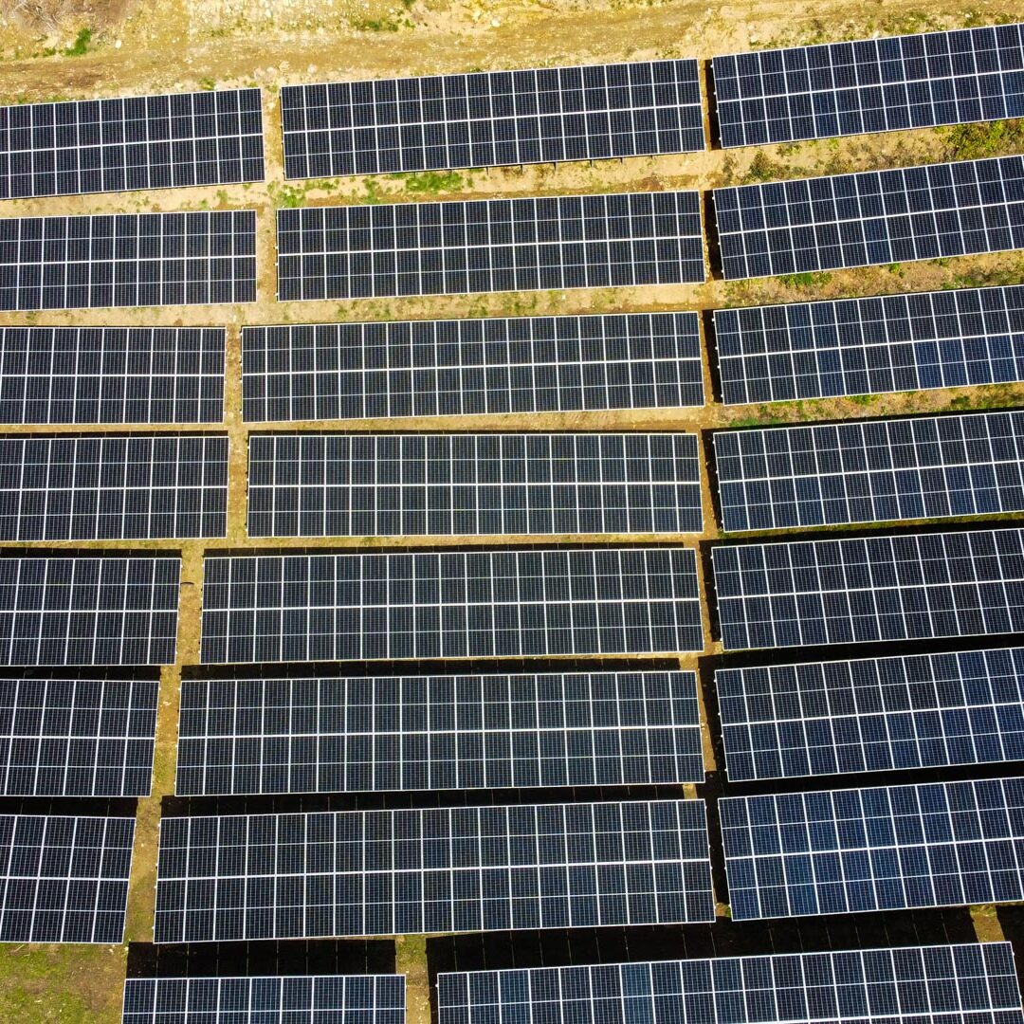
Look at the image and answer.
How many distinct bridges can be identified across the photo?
none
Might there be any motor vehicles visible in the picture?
No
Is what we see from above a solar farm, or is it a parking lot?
solar farm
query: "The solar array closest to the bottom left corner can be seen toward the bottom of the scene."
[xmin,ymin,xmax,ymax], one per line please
[0,815,137,942]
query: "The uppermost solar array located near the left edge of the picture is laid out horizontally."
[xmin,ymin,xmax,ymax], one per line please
[0,88,265,199]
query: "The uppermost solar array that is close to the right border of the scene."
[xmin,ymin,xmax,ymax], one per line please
[712,23,1024,148]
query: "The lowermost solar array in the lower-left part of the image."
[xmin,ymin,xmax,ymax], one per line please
[123,975,407,1024]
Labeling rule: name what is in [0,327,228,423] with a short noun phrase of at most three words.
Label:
solar array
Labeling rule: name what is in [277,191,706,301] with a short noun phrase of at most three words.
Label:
solar array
